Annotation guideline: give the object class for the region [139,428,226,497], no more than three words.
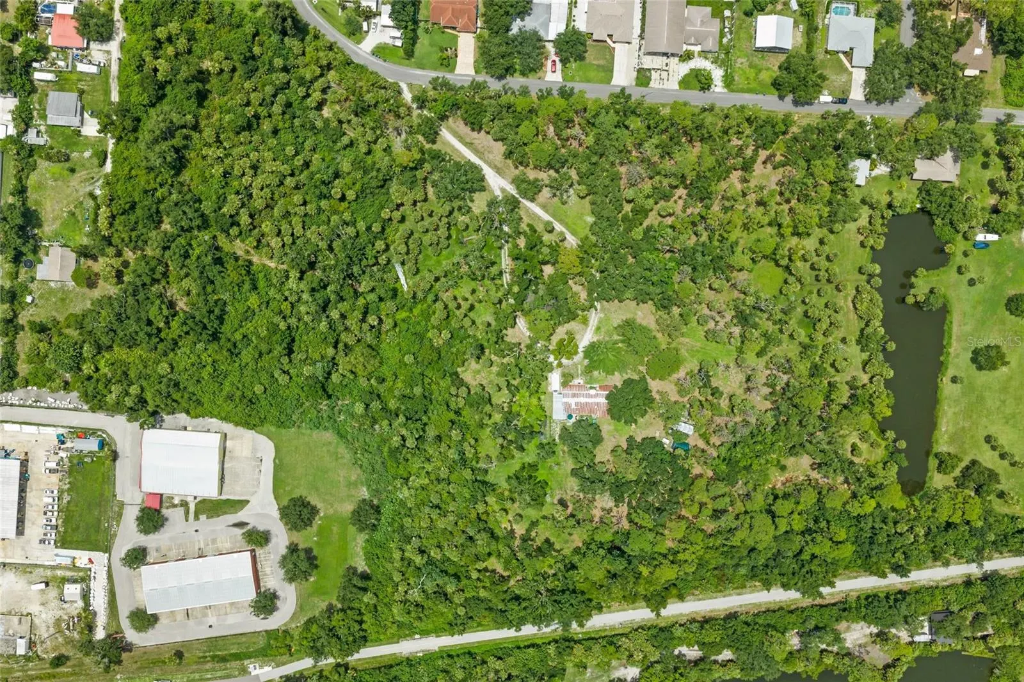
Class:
building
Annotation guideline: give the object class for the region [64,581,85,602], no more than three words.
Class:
shed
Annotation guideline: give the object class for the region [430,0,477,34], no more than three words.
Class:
house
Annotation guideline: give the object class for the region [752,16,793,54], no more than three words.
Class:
barn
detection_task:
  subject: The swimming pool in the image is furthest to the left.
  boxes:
[38,2,56,14]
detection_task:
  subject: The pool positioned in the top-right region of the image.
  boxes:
[833,1,857,16]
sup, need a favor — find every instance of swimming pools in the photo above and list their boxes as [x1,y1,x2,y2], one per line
[833,1,857,16]
[38,2,56,14]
